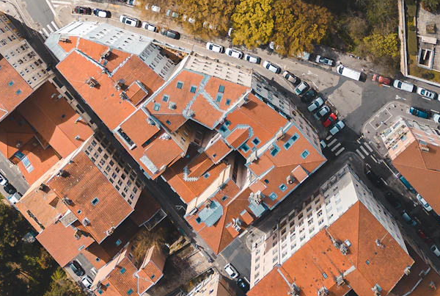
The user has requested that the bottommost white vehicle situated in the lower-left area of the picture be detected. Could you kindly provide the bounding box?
[80,273,95,290]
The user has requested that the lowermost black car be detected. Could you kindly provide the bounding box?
[234,274,250,294]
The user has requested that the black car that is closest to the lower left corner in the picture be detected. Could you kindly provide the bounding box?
[70,259,85,276]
